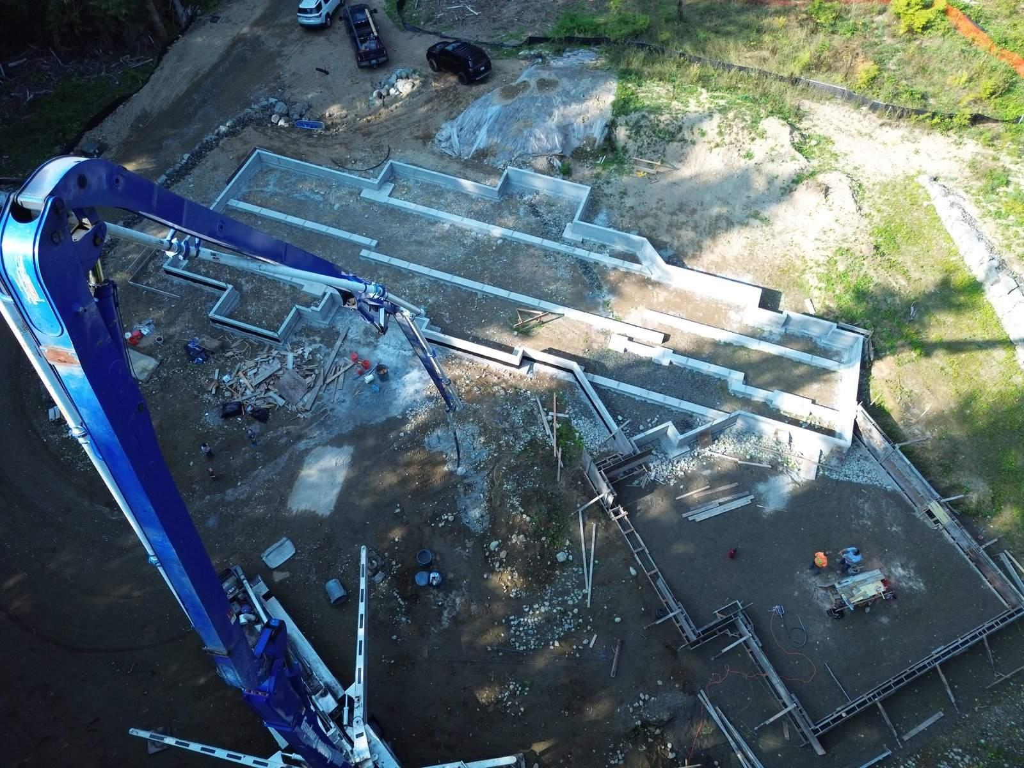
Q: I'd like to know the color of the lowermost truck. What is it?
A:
blue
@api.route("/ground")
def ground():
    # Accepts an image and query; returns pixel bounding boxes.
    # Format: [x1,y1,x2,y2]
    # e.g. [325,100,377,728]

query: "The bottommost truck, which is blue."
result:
[0,151,522,768]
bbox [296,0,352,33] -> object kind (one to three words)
car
